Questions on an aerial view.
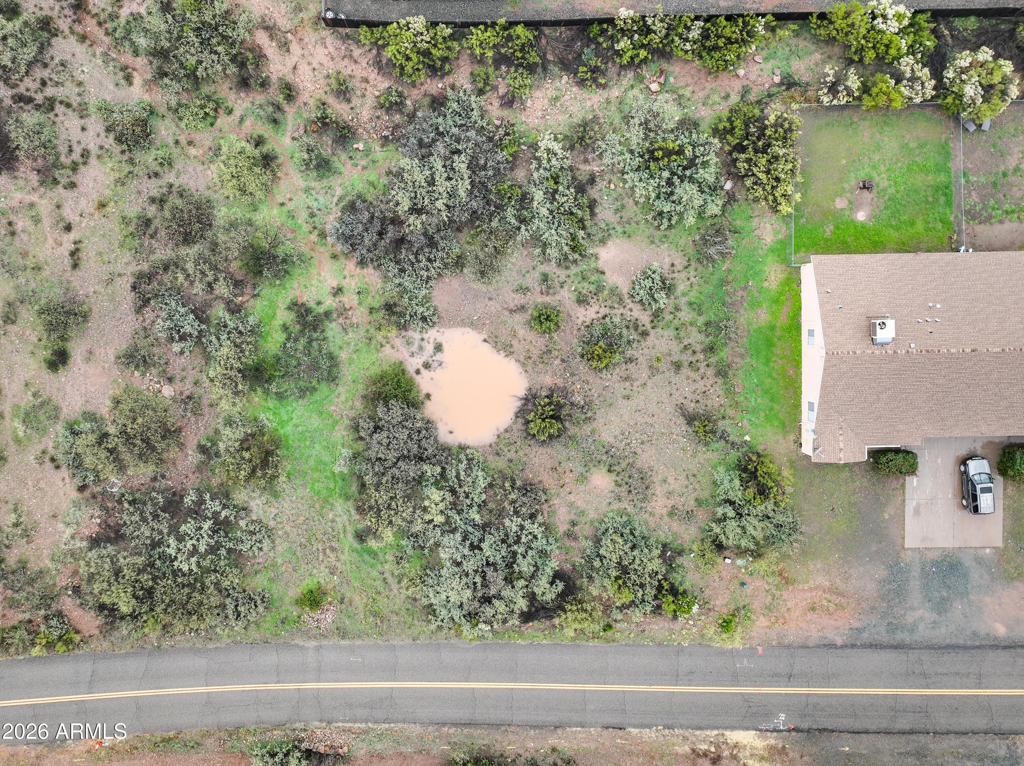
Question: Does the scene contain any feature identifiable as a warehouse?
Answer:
No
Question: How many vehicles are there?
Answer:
1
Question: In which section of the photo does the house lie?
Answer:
right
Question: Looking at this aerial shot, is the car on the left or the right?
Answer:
right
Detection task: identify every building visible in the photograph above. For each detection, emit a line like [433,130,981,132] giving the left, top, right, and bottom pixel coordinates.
[798,252,1024,463]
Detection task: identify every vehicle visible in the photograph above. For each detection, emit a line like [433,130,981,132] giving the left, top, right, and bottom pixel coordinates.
[957,455,993,517]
